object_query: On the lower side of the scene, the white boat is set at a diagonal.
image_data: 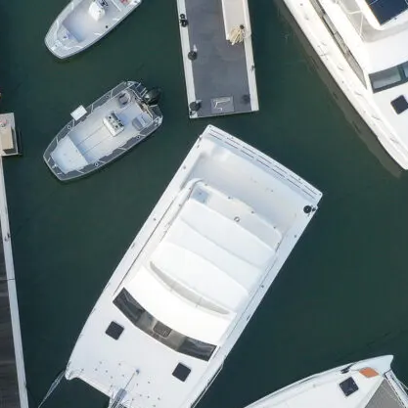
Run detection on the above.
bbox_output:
[39,125,322,408]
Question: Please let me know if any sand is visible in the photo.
No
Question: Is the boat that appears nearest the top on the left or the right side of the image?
left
